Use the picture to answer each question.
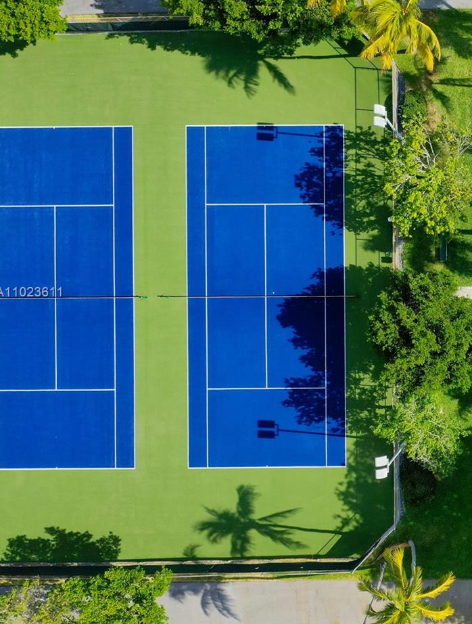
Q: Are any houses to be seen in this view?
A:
No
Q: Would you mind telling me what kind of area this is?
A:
sports ground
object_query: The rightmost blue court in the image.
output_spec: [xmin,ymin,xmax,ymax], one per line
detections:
[186,125,346,469]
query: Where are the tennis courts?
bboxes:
[0,126,136,470]
[186,125,346,469]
